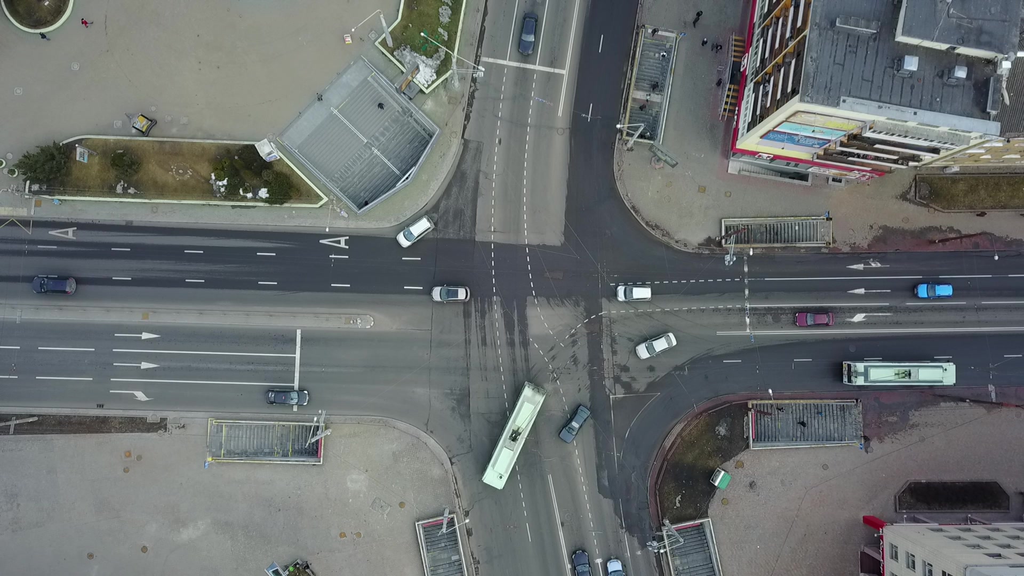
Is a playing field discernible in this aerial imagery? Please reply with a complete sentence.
No, no playing field is visible in the view.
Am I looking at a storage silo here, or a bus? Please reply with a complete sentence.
The one in the frame is a bus.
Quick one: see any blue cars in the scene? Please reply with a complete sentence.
Yes, a blue car can be made out from above.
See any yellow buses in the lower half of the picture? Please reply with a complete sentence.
No, there's no yellow bus to be seen in the lower half of the picture.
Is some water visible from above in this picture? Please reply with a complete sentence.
No, water can't be seen anywhere here.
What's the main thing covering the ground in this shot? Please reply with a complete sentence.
The largest share of the image is taken up by paved ground.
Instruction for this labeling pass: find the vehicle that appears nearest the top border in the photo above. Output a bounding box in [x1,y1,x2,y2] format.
[518,13,537,56]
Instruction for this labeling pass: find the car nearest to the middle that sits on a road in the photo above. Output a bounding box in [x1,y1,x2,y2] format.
[432,283,470,303]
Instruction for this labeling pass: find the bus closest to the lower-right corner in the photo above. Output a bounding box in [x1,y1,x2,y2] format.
[841,358,956,386]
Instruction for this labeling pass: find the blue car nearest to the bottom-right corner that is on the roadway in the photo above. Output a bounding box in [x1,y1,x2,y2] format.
[912,281,952,299]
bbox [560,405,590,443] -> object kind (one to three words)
car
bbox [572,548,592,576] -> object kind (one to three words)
car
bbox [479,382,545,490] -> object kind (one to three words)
bus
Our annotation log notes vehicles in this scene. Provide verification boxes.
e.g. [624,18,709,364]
[616,283,651,302]
[518,13,537,56]
[635,331,676,360]
[794,309,834,328]
[266,387,311,407]
[432,283,470,303]
[479,382,545,490]
[397,215,434,248]
[606,556,626,576]
[560,405,590,443]
[912,281,952,299]
[572,548,592,576]
[841,358,956,386]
